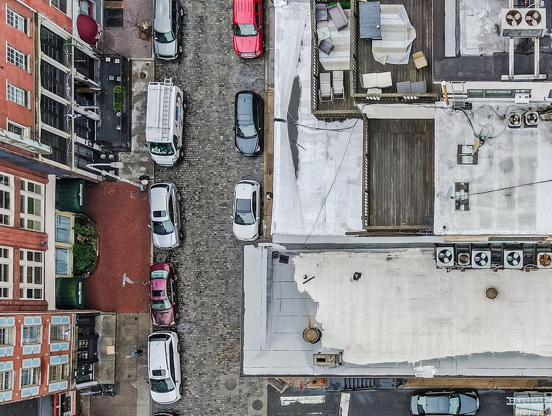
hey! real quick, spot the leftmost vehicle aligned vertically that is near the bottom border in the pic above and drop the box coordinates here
[145,329,183,404]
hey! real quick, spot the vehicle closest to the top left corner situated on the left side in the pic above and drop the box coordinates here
[148,0,185,63]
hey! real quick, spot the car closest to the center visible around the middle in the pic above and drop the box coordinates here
[229,175,262,241]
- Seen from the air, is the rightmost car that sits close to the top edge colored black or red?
red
